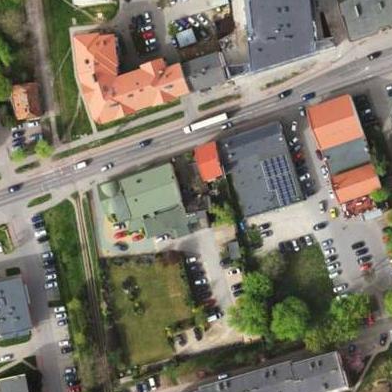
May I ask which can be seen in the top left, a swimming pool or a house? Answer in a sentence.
You can see a house in the top left.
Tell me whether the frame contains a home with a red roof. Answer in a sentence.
Yes, there's a home with a red roof down there.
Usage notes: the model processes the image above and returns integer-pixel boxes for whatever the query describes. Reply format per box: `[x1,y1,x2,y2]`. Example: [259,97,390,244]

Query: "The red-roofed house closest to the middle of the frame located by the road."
[193,141,226,183]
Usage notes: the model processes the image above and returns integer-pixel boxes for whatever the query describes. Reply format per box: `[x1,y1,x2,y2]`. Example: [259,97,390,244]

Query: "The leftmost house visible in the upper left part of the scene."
[11,81,46,122]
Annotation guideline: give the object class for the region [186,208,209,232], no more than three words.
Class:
shed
